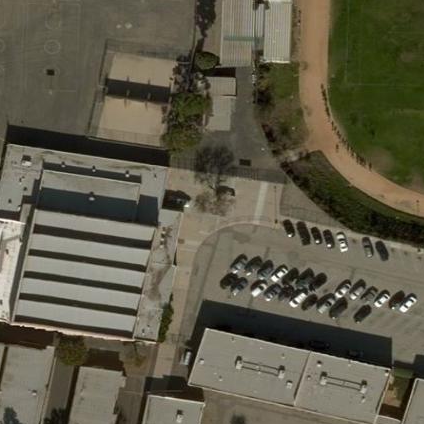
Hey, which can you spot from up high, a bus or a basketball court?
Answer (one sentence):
The image shows a basketball court.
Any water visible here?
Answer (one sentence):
No, the scene doesn't show any water.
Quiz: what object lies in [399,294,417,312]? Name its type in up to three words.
car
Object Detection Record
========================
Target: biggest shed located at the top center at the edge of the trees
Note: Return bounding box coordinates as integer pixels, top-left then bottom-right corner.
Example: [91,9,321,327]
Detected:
[205,97,234,132]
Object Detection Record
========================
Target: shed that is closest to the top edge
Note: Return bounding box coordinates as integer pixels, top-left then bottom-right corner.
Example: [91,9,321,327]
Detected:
[207,77,236,97]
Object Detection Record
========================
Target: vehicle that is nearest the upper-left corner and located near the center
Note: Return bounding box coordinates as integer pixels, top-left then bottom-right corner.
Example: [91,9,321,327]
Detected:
[169,195,190,208]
